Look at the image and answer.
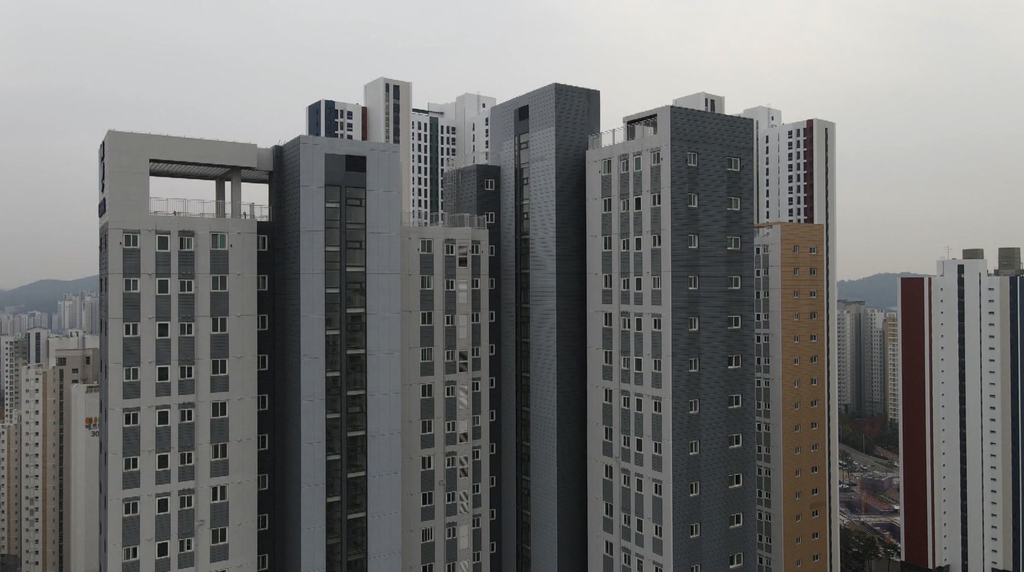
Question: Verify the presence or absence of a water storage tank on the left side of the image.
No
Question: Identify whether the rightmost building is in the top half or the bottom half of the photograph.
bottom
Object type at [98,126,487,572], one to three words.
building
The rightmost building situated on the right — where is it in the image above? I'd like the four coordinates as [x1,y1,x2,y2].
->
[898,259,1024,572]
